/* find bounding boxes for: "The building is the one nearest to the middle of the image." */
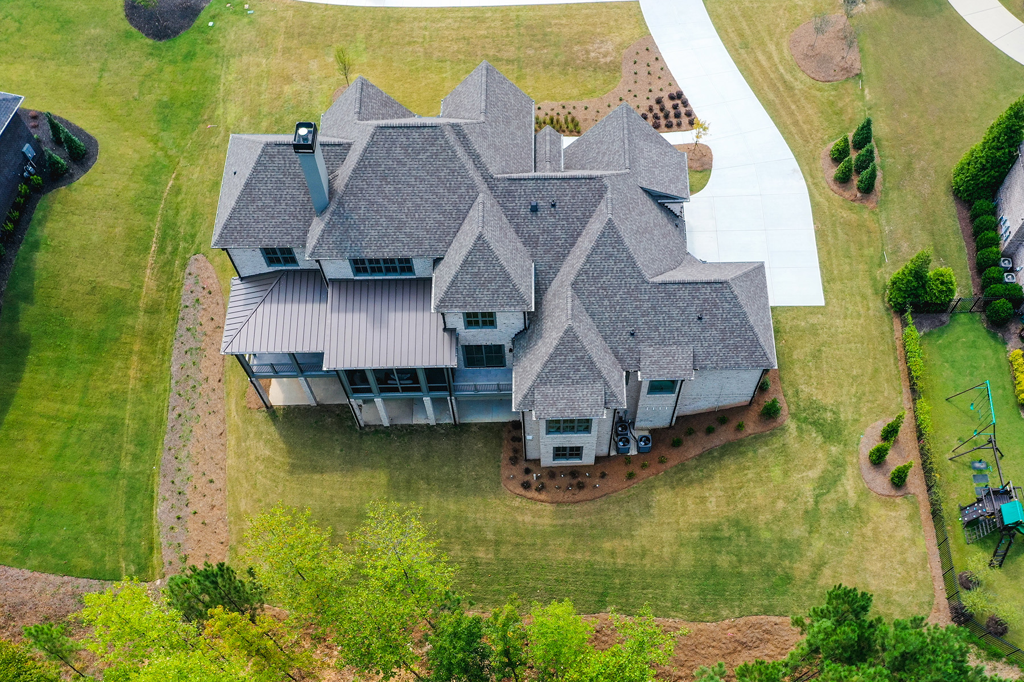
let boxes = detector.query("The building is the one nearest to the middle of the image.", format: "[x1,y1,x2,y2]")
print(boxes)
[209,58,780,466]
